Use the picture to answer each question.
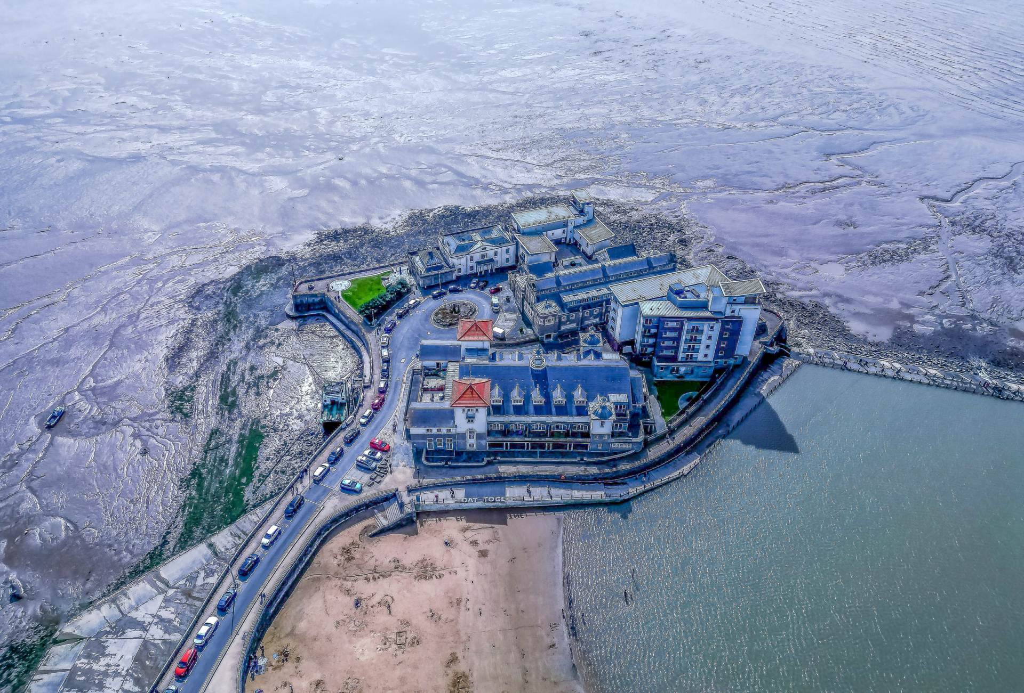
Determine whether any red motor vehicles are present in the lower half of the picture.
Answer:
Yes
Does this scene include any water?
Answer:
Yes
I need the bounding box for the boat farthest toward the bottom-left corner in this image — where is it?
[36,406,69,428]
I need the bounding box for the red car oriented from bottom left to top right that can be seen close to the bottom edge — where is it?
[173,647,199,678]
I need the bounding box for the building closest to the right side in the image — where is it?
[607,264,766,382]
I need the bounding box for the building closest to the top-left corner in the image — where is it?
[408,245,455,287]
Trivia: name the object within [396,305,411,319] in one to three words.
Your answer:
car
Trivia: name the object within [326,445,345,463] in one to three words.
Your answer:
car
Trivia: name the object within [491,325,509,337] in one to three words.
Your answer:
vehicle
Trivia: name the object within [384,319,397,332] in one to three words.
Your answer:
vehicle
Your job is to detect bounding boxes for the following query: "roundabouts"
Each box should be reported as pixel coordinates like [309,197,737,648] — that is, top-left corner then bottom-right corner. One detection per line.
[432,300,479,327]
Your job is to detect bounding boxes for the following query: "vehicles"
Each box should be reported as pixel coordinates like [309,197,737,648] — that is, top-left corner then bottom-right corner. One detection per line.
[355,455,376,470]
[311,463,331,482]
[260,525,281,546]
[396,305,411,319]
[194,616,219,646]
[326,445,345,463]
[378,364,388,379]
[380,348,389,362]
[214,587,238,615]
[407,296,422,309]
[491,325,509,337]
[379,333,389,345]
[343,428,360,444]
[476,279,489,290]
[384,319,397,332]
[357,407,374,425]
[369,438,390,452]
[237,554,259,576]
[468,277,479,288]
[173,647,199,678]
[429,289,448,298]
[283,495,305,517]
[488,284,505,293]
[361,448,385,462]
[491,298,500,310]
[338,479,364,493]
[447,284,463,292]
[371,394,384,409]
